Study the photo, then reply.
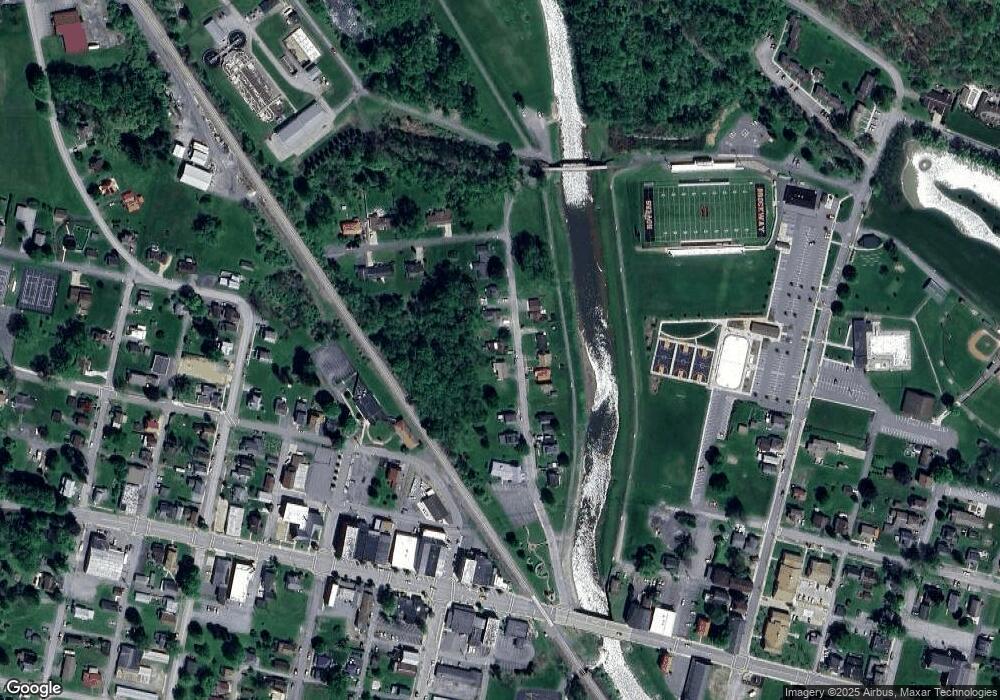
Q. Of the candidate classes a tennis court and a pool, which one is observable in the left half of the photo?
tennis court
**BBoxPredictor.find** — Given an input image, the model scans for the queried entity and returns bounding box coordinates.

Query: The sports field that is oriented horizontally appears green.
[631,176,778,248]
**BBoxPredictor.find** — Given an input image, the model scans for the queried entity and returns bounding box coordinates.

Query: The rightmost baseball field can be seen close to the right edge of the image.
[941,301,1000,396]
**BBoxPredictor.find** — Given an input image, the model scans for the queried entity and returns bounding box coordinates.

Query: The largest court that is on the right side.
[715,333,749,389]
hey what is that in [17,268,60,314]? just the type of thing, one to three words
tennis court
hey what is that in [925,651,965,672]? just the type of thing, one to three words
house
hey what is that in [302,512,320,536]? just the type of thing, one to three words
building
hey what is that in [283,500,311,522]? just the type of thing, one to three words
building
